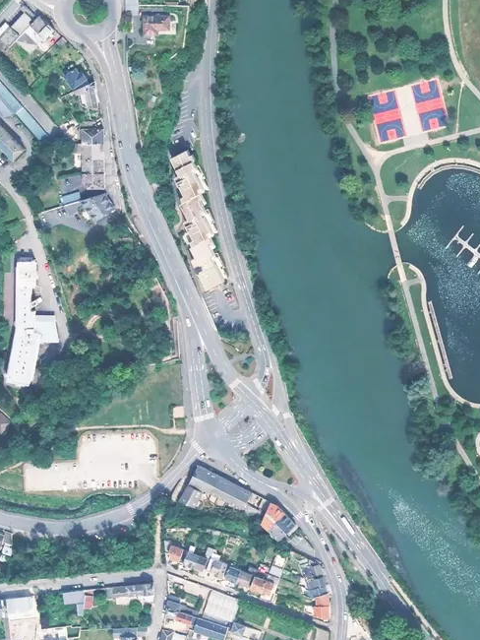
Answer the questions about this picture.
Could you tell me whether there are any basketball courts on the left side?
No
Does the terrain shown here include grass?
Yes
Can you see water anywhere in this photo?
Yes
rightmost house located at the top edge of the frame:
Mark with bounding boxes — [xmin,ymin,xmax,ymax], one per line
[142,12,169,31]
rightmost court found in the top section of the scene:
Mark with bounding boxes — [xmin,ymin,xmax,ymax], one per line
[411,78,448,133]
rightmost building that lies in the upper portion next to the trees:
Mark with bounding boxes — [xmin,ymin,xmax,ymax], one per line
[169,151,228,289]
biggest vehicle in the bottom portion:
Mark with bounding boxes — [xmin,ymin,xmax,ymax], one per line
[340,514,355,535]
